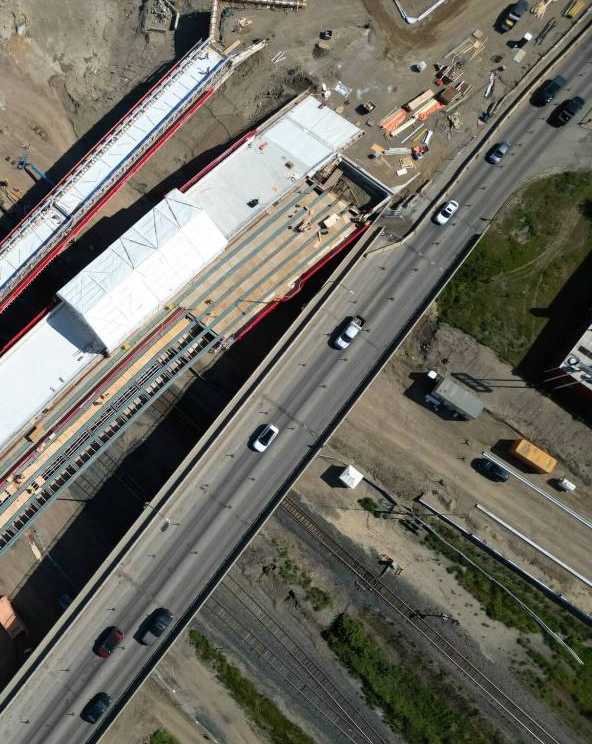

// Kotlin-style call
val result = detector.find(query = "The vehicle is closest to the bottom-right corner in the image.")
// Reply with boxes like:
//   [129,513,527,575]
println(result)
[560,475,581,493]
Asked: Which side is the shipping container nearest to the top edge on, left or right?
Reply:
right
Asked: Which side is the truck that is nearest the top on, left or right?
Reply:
right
